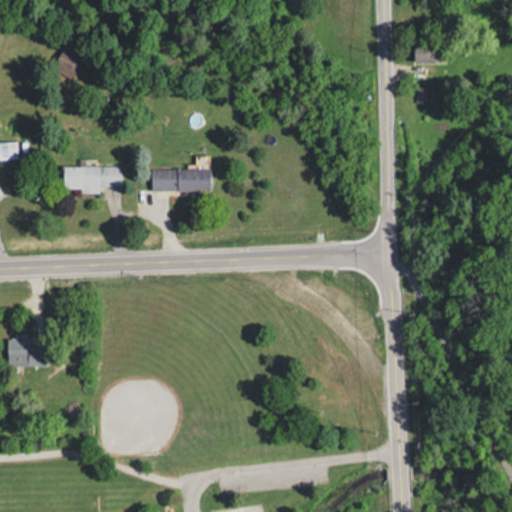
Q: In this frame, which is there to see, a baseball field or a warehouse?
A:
baseball field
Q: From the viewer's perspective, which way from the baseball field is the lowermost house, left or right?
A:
to its left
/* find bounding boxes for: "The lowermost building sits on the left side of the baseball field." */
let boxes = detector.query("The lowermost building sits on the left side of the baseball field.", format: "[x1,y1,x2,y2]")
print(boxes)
[8,336,49,374]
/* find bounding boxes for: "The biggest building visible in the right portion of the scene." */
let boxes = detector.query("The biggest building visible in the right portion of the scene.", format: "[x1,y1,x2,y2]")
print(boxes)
[414,46,447,66]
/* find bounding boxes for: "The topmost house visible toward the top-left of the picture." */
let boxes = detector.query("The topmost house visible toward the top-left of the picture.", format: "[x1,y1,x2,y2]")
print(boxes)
[56,52,80,79]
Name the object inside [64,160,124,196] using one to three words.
house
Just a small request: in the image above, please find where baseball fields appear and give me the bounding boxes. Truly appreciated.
[98,294,260,464]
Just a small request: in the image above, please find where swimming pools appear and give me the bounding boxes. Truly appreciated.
[190,113,208,128]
